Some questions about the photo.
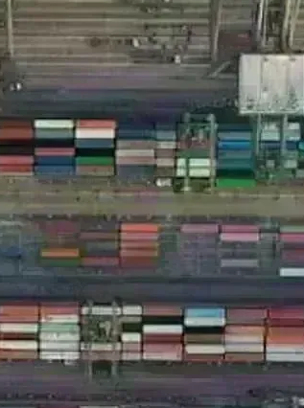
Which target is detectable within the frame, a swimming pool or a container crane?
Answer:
container crane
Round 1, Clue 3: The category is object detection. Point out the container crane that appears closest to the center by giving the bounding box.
[168,110,217,195]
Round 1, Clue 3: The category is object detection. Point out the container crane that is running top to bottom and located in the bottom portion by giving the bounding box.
[77,287,122,385]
